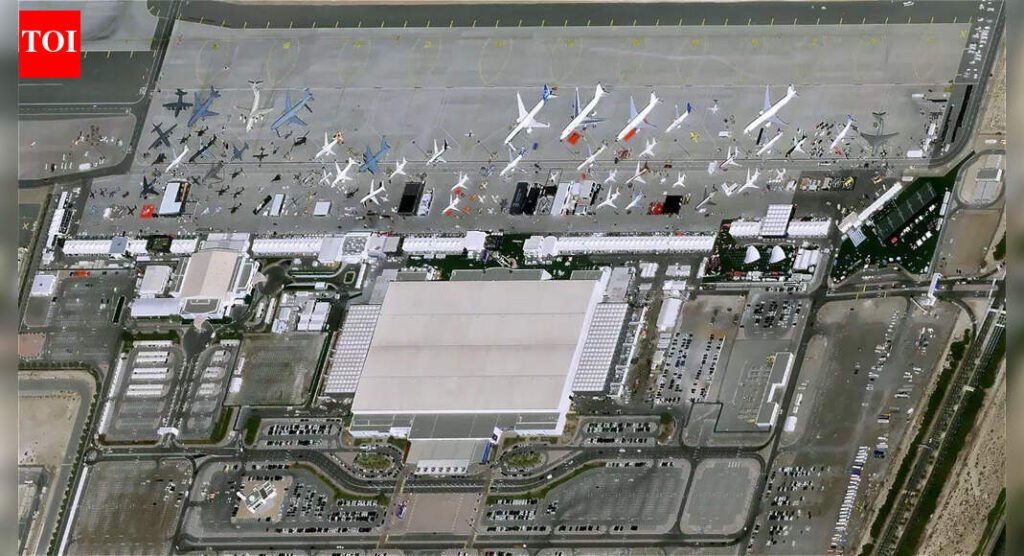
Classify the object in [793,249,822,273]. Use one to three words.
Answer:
tent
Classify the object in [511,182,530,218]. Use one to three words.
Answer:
building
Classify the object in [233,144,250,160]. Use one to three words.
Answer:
airplane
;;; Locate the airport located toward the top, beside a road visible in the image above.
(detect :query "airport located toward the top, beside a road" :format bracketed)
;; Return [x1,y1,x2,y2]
[0,0,1021,243]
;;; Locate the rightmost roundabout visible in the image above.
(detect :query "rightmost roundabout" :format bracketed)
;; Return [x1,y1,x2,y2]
[499,445,551,478]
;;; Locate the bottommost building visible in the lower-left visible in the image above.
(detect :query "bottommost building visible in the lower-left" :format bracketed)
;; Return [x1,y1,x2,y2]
[236,481,280,516]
